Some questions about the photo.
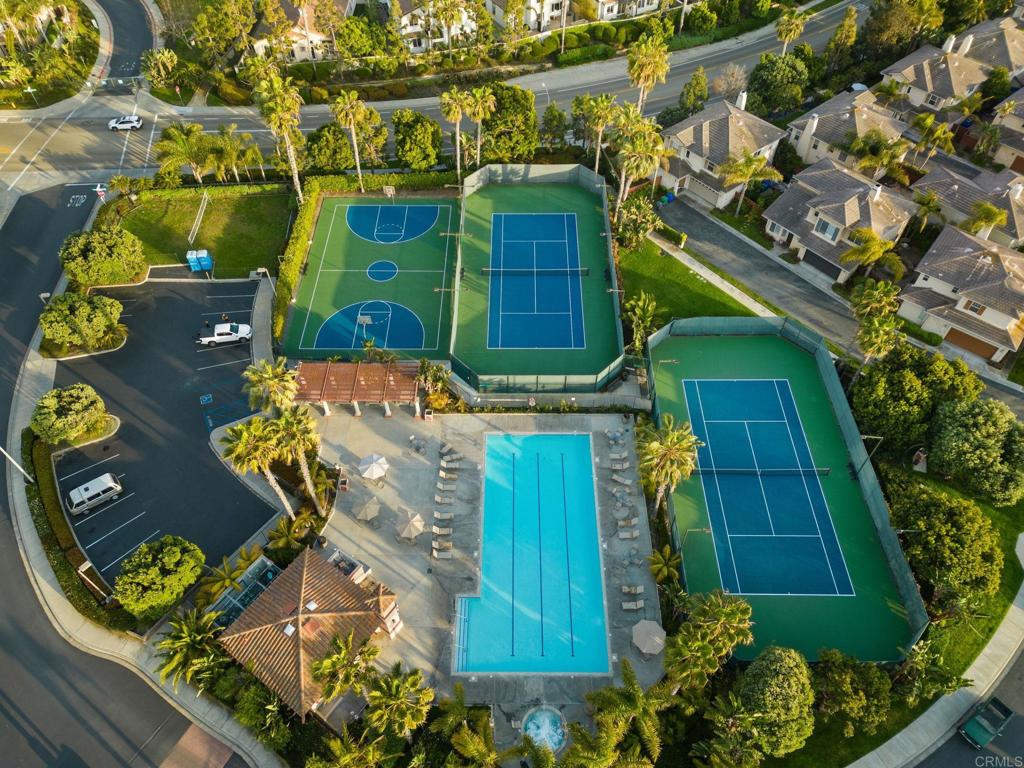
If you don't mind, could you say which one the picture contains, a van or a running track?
van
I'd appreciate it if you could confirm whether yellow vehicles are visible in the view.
No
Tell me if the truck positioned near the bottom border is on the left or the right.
right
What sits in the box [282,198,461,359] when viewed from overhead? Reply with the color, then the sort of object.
green basketball court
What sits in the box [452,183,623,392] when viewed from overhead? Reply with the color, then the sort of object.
green tennis court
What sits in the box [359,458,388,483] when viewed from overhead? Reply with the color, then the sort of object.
white umbrella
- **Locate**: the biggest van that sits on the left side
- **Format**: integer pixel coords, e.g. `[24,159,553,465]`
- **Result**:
[64,467,121,510]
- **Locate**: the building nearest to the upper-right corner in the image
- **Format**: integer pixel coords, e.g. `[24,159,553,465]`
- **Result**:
[960,26,1024,117]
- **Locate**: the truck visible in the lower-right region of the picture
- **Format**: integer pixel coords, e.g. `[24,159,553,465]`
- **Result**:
[957,693,1018,752]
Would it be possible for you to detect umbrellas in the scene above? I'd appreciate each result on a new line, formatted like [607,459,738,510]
[359,458,388,483]
[629,620,667,658]
[352,498,382,524]
[395,512,425,539]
